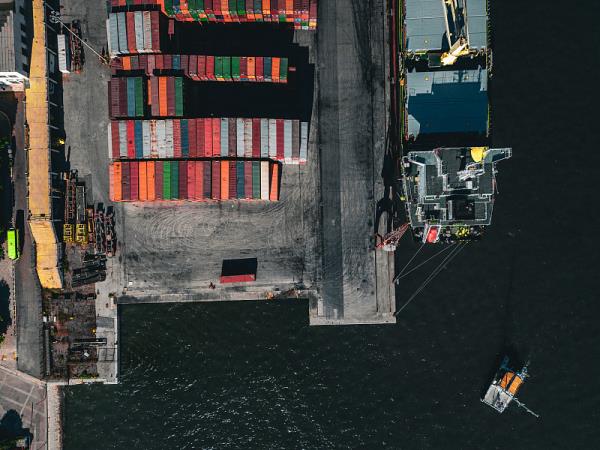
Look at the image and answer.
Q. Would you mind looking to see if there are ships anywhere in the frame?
Yes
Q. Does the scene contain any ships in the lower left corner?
No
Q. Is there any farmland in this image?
No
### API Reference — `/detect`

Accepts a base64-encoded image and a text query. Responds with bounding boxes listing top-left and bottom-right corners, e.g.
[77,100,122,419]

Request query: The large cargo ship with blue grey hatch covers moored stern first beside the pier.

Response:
[391,0,514,244]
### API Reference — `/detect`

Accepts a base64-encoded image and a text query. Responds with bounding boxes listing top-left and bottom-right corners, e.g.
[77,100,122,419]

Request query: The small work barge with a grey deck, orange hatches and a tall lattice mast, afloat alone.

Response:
[481,362,541,420]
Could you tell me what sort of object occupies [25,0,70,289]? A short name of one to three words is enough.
building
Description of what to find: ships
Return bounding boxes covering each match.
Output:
[481,362,541,420]
[391,0,514,244]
